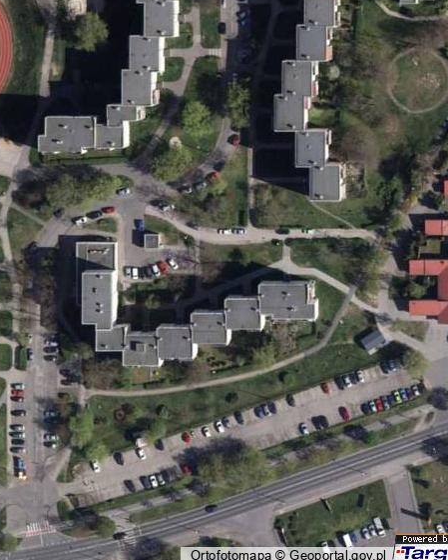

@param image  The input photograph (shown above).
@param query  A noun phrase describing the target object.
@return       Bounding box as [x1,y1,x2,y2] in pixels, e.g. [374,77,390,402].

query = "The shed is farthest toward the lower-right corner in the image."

[361,331,385,355]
